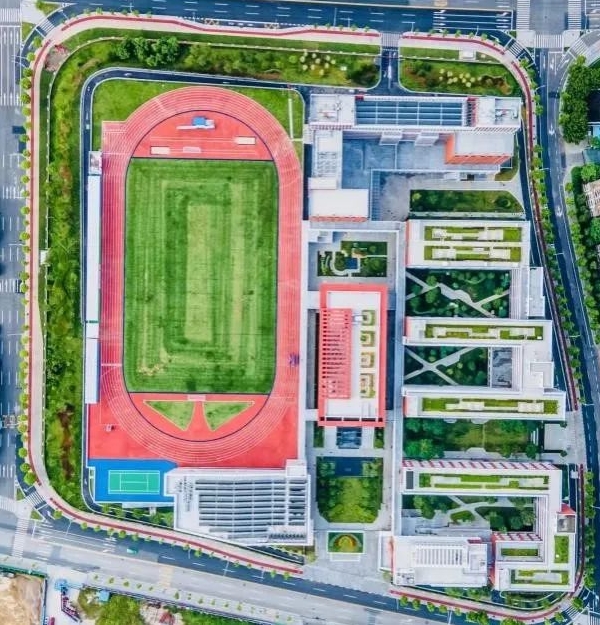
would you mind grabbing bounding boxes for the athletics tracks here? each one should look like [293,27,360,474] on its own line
[88,87,300,467]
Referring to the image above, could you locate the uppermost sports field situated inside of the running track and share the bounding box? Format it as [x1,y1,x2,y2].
[123,157,277,395]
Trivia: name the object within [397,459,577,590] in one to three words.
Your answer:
building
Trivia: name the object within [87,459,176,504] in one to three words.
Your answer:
tennis court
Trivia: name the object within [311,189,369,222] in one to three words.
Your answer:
building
